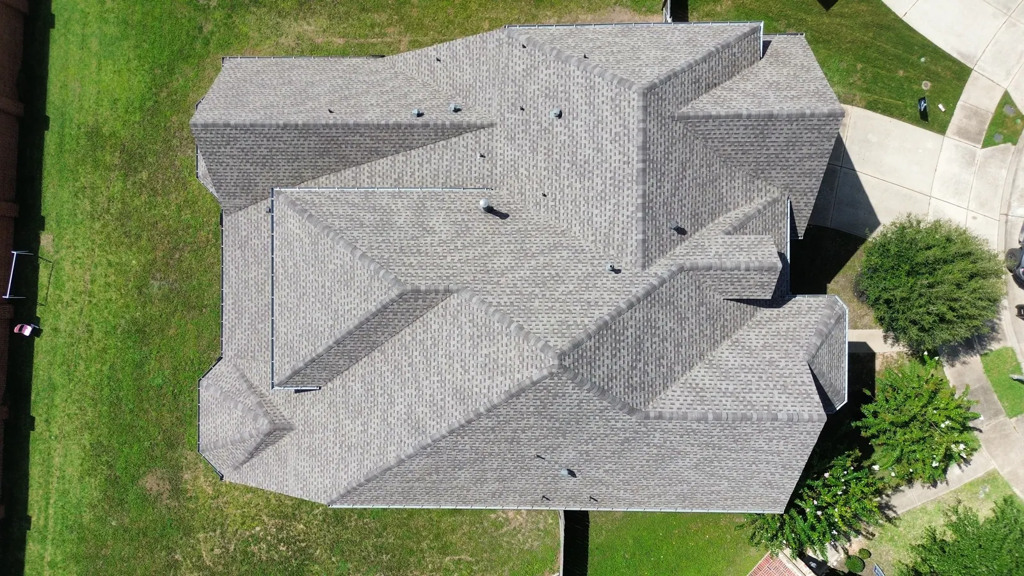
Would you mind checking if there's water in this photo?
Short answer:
No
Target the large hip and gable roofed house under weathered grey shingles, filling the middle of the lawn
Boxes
[191,22,847,513]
